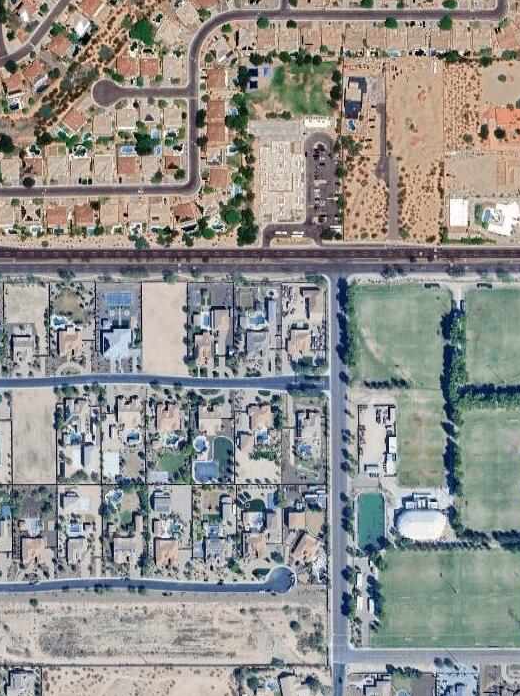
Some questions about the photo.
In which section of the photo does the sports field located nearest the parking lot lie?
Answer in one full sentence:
You can find the sports field located nearest the parking lot in the right area of the picture.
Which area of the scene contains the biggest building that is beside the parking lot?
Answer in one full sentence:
The biggest building that is beside the parking lot sits in the top section of the image.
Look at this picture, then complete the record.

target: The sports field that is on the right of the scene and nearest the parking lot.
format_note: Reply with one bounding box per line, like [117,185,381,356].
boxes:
[347,283,453,389]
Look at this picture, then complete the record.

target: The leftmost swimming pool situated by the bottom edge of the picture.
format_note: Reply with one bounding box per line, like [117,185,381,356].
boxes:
[262,676,280,690]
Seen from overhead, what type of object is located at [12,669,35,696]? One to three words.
house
